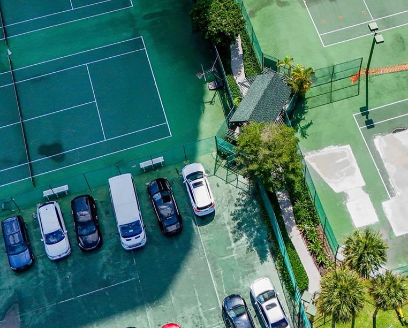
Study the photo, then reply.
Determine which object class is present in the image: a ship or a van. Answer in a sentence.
Visible in the photo is a van.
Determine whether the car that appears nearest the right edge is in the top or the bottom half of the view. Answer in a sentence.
The bottom half of the photo is where the car that appears nearest the right edge is.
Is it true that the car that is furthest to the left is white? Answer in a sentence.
No, the car that is furthest to the left is actually blue.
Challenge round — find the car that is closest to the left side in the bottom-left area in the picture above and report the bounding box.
[0,211,34,277]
